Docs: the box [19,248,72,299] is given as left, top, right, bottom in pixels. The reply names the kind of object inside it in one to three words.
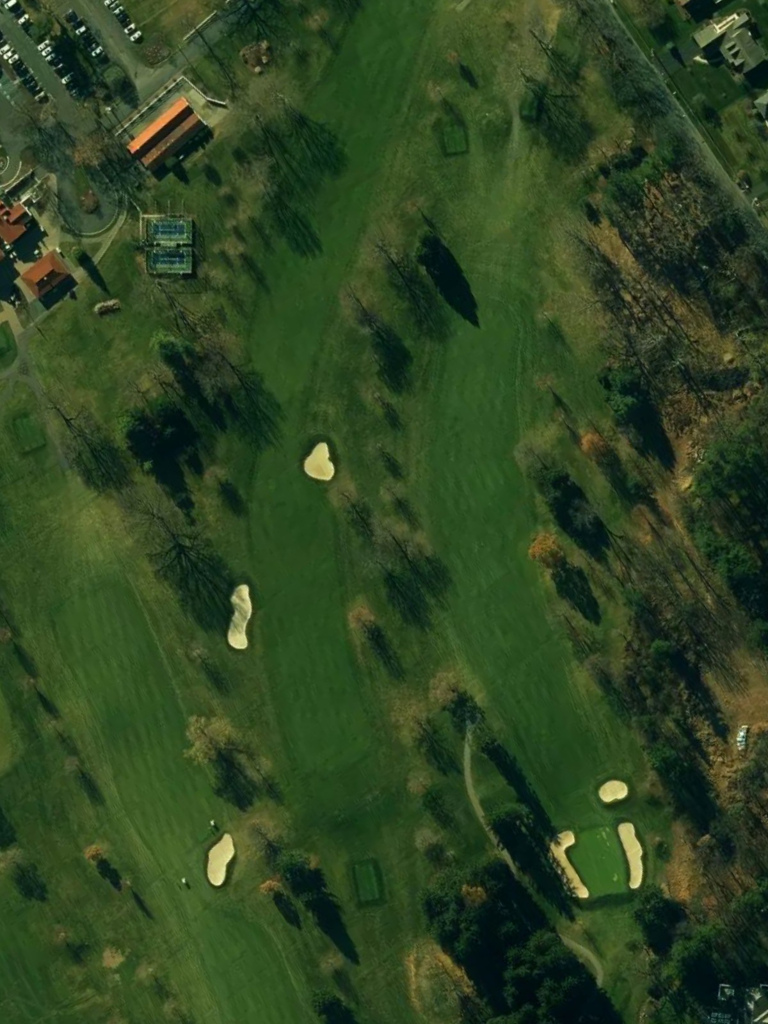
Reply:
building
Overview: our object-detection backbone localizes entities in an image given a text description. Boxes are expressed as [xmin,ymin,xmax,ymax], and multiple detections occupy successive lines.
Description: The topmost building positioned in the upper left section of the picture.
[128,97,206,171]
